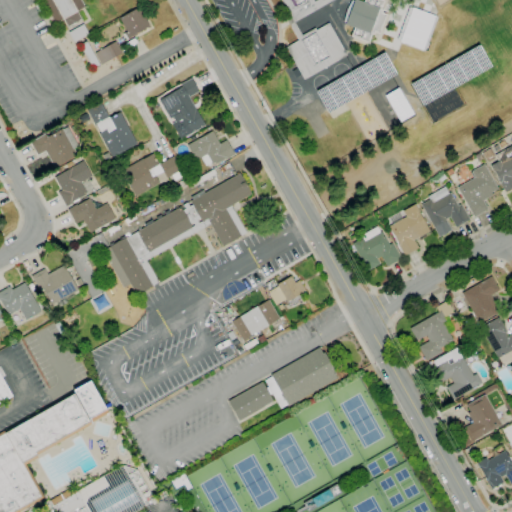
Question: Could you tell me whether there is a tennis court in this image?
Yes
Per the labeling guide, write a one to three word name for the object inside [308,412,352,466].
tennis court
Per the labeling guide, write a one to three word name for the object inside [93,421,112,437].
swimming pool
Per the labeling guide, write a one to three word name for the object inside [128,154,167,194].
house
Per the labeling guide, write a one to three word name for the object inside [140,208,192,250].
building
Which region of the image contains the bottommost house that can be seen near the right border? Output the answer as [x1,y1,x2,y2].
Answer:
[480,450,512,490]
